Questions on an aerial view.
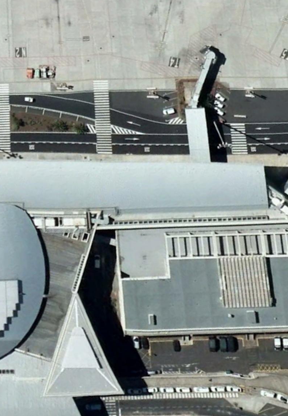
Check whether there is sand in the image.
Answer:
No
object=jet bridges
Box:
[189,40,218,107]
